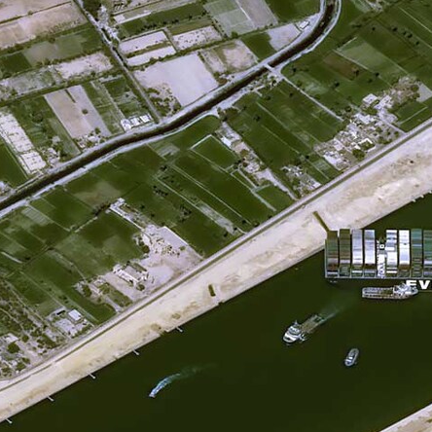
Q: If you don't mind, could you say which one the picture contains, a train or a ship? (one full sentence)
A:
The one in the frame is a ship.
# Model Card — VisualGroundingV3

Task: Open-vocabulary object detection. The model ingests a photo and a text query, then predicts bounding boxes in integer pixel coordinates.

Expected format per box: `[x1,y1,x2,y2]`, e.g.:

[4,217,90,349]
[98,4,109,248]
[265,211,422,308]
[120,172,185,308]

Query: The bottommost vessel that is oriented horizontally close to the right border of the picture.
[362,284,418,299]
